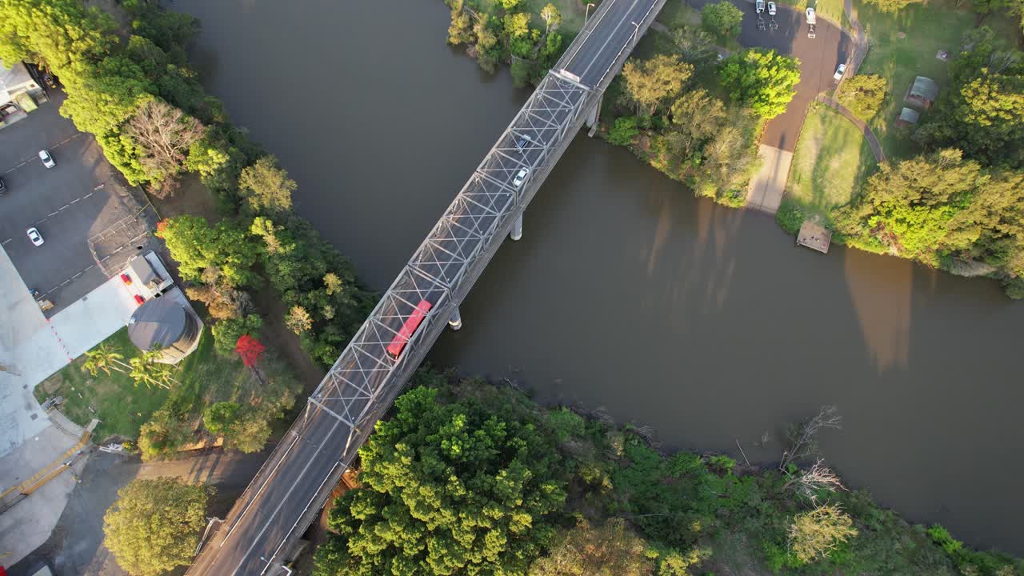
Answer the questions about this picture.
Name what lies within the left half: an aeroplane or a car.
car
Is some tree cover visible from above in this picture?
Yes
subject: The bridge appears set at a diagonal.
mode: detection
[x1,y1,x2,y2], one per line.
[178,0,667,576]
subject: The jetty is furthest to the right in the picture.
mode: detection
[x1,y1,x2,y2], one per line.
[794,218,833,253]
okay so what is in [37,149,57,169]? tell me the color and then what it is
white car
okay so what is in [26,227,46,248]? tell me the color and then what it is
white car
